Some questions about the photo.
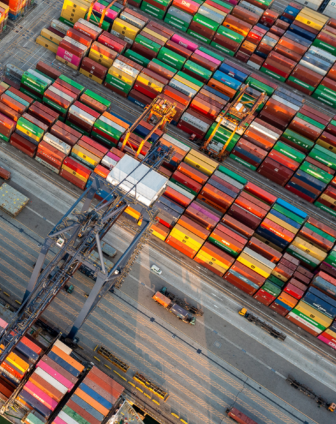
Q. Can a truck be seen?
Yes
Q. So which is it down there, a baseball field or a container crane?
container crane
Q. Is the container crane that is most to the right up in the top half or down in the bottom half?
top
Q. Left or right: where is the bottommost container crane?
left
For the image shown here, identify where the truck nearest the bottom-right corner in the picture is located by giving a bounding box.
[288,376,335,410]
